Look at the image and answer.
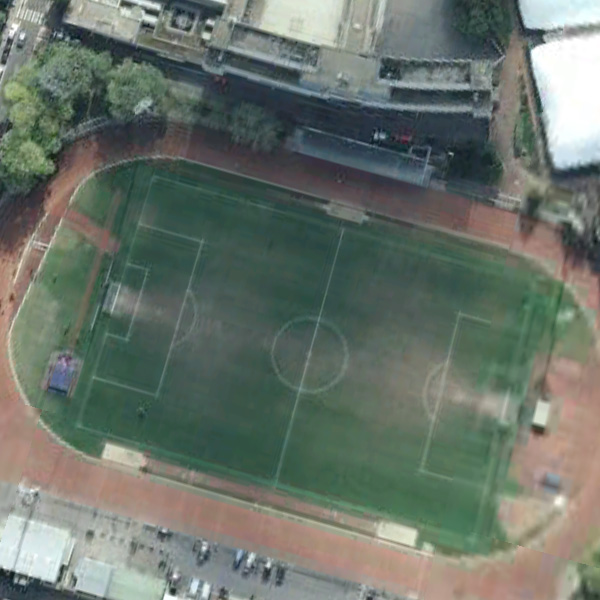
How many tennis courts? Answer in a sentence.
There are no tennis courts in this view.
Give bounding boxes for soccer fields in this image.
[63,155,562,551]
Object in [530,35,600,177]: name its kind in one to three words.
building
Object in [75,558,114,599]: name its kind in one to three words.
shed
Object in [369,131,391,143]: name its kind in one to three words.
vehicle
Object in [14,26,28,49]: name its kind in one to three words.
vehicle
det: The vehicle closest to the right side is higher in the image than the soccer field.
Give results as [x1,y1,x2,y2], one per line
[393,131,415,144]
